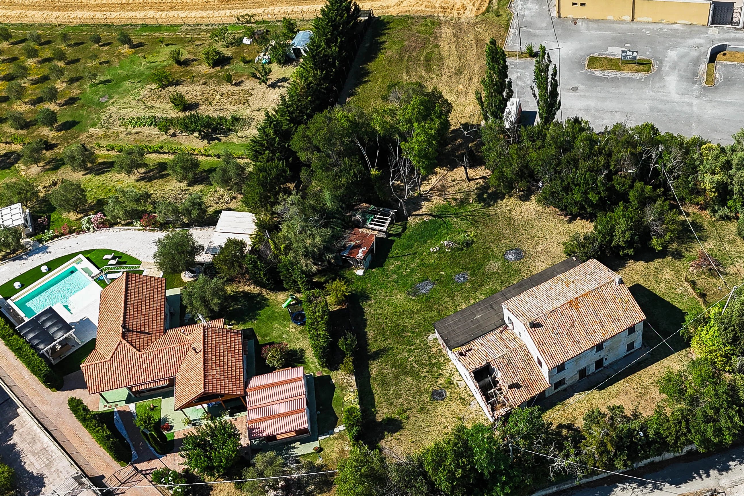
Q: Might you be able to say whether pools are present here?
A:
Yes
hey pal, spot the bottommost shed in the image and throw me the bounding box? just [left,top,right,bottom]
[247,366,312,445]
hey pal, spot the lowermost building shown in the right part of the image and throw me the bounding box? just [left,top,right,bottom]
[434,256,646,430]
